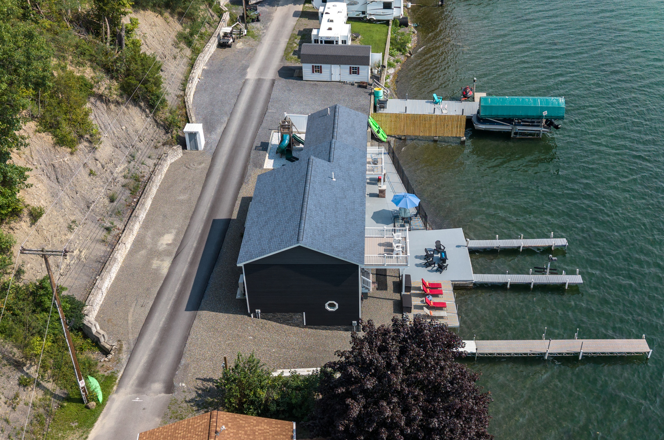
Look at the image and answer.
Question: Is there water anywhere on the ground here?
Yes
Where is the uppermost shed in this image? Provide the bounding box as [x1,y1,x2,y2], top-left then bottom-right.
[301,47,372,82]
